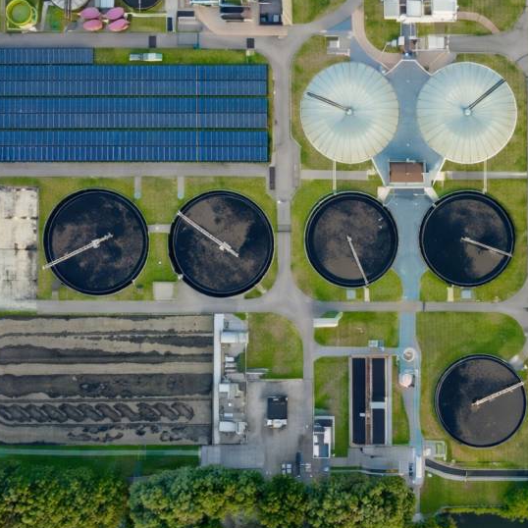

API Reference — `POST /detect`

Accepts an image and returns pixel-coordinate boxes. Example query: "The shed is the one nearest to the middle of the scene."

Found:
[221,329,250,343]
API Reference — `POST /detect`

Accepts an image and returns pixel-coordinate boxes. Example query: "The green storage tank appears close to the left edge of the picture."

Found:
[7,0,41,31]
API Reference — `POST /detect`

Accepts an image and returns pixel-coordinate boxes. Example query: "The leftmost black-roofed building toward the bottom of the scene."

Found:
[268,395,289,419]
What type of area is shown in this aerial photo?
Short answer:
industrial area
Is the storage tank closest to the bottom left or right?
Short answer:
right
